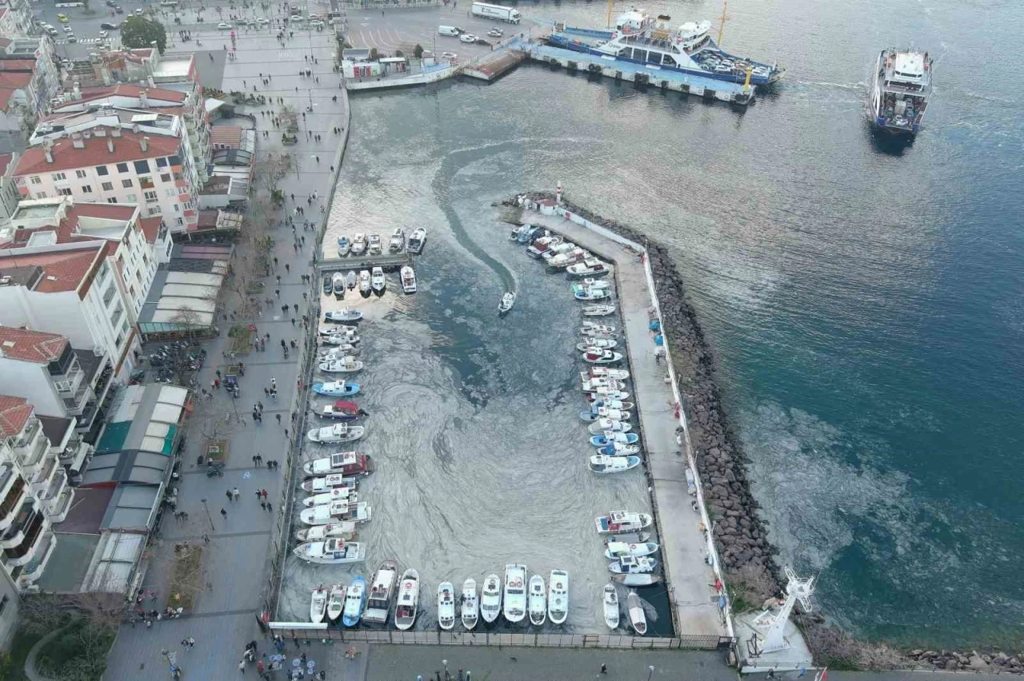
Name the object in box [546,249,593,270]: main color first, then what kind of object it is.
white boat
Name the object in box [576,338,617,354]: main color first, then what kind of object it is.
white boat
